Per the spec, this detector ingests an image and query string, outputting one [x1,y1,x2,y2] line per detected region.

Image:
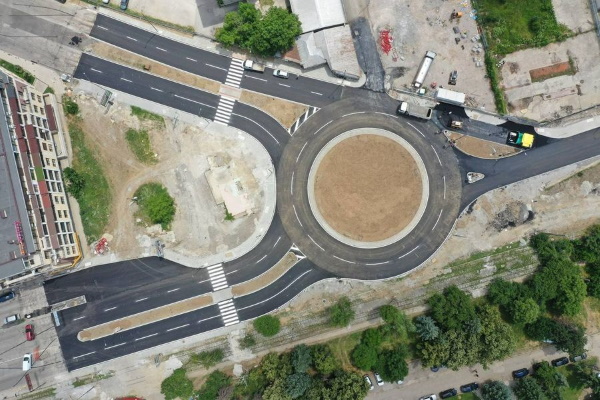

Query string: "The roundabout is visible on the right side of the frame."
[277,96,461,280]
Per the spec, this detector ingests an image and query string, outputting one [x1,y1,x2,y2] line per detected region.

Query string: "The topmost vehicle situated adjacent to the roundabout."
[411,49,438,91]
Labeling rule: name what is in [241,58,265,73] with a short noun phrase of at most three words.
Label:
vehicle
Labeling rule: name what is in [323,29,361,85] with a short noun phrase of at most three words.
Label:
building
